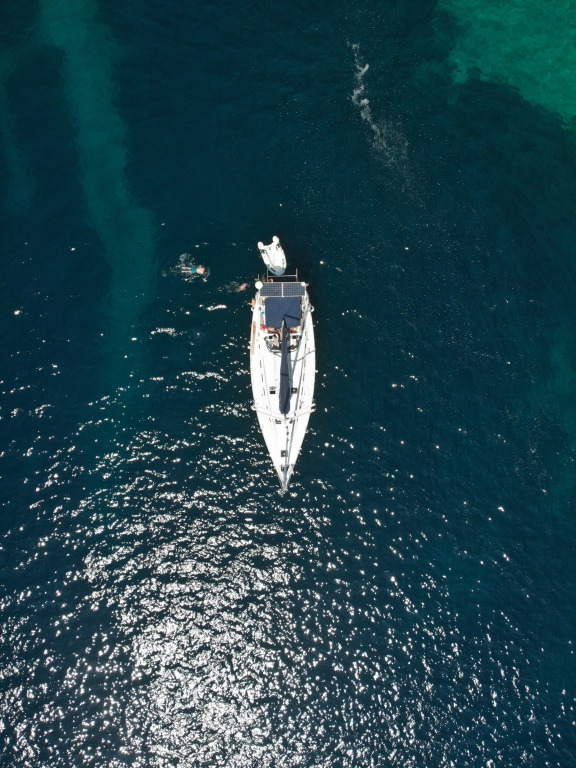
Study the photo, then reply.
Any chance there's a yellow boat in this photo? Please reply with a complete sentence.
No, the scene contains no yellow boat.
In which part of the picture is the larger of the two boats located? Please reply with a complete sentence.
The larger of the two boats appears toward the center of the photo.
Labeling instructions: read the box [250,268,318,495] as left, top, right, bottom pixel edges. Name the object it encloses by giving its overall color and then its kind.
white boat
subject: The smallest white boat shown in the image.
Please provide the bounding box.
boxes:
[258,238,284,274]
